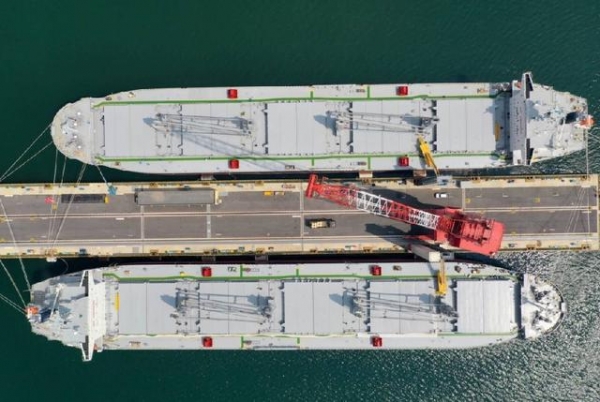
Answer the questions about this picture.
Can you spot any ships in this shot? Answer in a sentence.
Yes, a ship appears in the view.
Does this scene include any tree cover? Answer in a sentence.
No, tree cover can't be seen anywhere here.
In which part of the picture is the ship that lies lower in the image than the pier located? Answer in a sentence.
You can find the ship that lies lower in the image than the pier in the bottom area of the picture.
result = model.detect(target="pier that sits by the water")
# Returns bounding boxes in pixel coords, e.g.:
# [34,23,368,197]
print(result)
[0,173,599,260]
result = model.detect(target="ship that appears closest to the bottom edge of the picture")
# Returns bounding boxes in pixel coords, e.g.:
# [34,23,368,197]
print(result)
[23,258,567,359]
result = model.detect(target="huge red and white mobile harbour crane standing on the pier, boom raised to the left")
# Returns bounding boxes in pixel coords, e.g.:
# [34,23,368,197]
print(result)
[304,172,508,252]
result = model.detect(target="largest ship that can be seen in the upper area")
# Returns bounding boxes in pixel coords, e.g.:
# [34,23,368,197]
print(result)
[49,74,593,175]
